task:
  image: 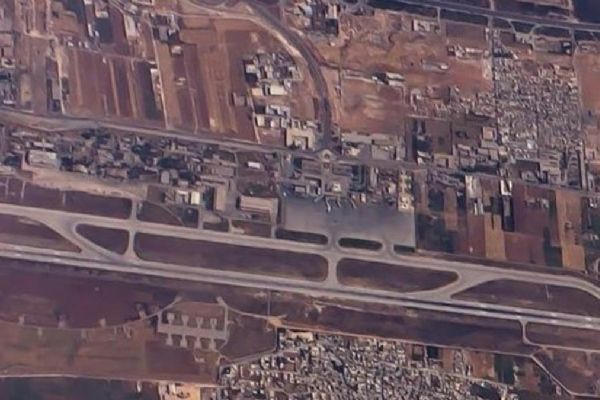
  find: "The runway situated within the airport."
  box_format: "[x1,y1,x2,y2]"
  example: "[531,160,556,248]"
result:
[0,245,600,329]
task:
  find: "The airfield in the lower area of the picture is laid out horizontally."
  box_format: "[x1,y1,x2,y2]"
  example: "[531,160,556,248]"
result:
[0,176,600,351]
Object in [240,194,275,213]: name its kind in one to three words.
hangar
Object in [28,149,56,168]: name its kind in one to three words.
building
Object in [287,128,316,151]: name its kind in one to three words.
building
